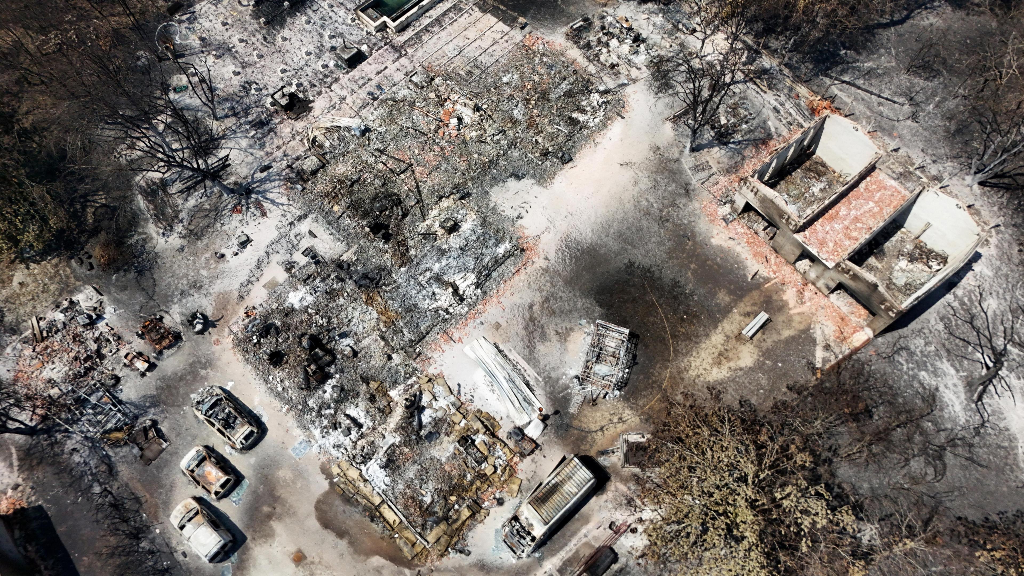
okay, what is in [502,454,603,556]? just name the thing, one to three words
van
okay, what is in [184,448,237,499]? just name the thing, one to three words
car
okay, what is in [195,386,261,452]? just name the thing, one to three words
car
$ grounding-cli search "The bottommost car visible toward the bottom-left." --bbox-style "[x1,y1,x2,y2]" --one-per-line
[174,501,234,563]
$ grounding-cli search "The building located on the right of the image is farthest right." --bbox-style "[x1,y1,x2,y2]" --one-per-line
[729,114,990,338]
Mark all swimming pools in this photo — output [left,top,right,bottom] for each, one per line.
[353,0,452,33]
